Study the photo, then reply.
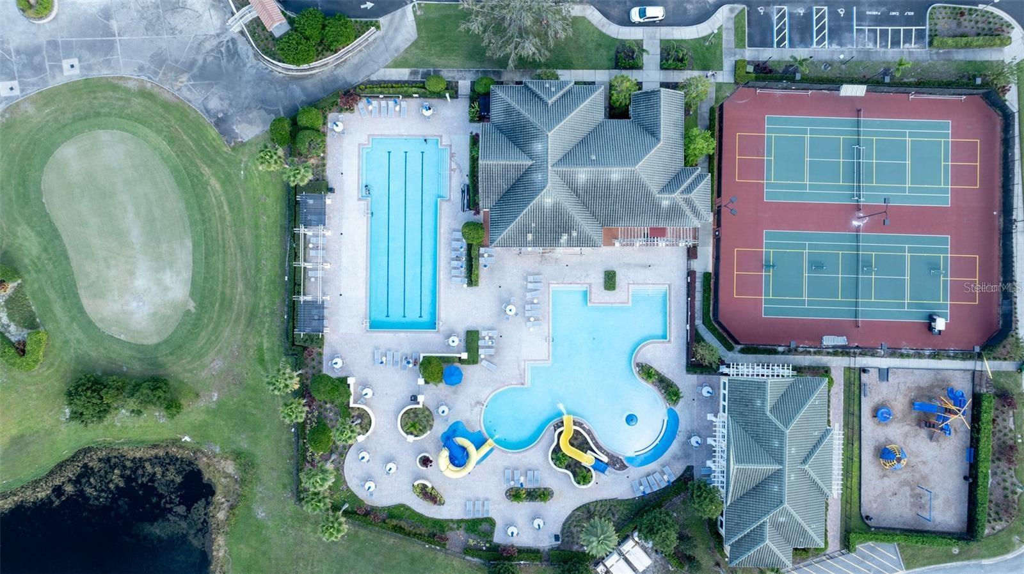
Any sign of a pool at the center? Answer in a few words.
Yes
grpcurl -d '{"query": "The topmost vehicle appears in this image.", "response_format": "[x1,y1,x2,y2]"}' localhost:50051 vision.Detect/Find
[630,4,666,23]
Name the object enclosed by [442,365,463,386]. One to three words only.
umbrella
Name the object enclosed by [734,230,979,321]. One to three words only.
tennis court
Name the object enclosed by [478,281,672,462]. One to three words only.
swimming pool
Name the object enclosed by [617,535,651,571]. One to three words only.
shed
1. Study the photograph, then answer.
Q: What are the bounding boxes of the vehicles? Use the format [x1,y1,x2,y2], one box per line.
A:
[925,314,947,336]
[630,4,666,23]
